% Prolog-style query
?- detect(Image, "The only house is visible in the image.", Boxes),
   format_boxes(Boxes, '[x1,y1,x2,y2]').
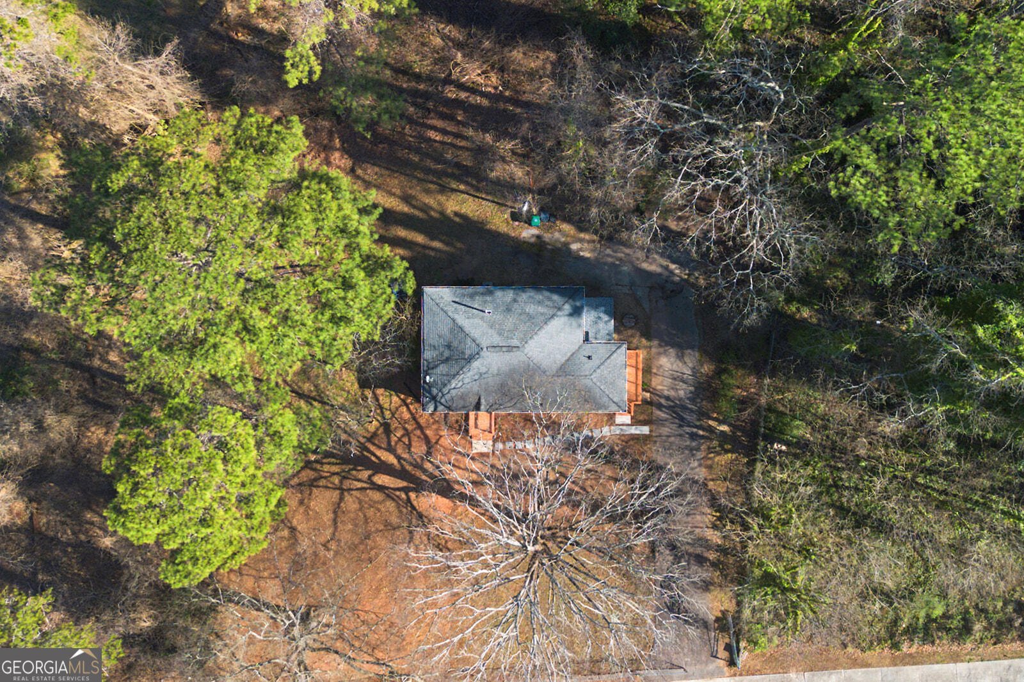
[421,285,642,442]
